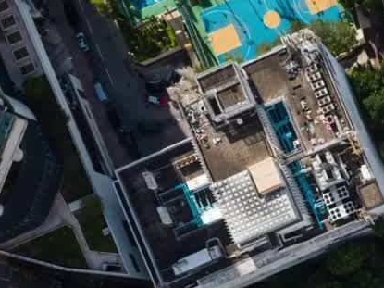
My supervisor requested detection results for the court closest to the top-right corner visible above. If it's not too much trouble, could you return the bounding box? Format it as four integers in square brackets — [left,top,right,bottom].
[190,0,353,64]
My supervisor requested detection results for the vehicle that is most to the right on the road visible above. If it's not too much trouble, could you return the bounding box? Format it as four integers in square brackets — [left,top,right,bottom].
[146,93,170,106]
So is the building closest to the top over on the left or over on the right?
left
